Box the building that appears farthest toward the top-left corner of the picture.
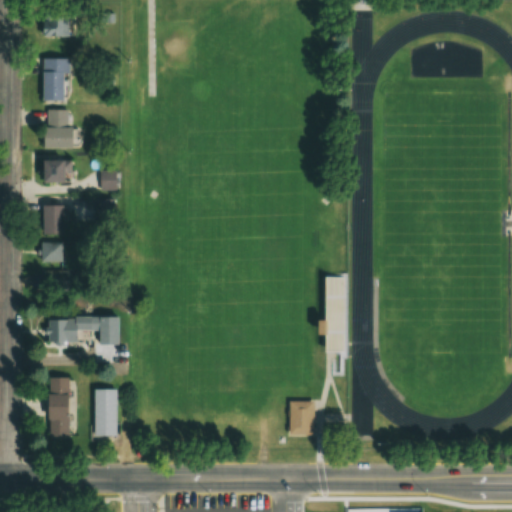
[44,17,70,36]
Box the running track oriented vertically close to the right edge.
[352,12,512,438]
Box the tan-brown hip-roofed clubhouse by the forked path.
[290,401,316,438]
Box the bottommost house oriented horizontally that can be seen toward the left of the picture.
[48,316,120,345]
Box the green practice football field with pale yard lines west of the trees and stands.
[187,108,304,394]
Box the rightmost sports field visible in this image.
[384,90,501,355]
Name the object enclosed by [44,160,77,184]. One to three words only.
house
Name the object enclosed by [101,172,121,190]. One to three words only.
building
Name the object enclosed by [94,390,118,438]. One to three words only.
barn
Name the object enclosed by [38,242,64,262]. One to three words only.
house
